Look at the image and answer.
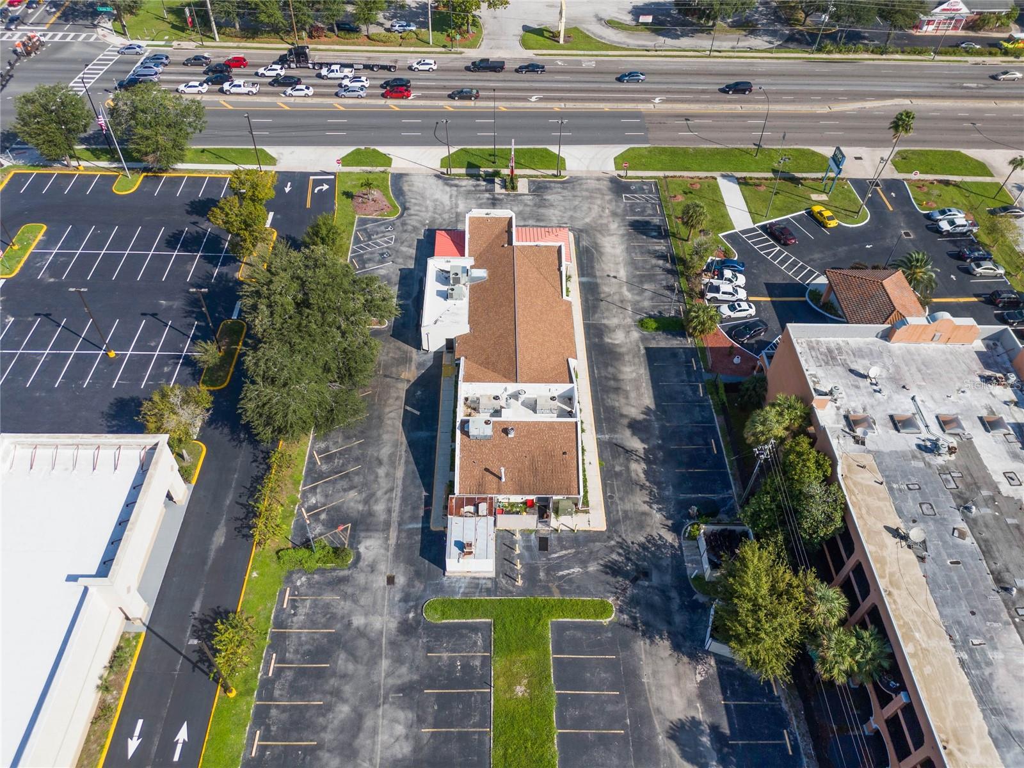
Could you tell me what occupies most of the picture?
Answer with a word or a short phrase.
paved ground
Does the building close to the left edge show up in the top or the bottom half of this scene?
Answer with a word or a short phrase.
bottom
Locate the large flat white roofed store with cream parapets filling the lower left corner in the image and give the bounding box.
[0,434,193,768]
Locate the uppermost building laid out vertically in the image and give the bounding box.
[420,206,595,522]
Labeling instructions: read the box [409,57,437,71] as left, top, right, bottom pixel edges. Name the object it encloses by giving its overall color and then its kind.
white car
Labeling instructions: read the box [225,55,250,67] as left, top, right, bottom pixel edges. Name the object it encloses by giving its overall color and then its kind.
red vehicle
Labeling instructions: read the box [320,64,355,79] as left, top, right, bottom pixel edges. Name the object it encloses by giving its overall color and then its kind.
white vehicle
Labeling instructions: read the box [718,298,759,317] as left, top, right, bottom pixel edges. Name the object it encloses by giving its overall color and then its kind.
white car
